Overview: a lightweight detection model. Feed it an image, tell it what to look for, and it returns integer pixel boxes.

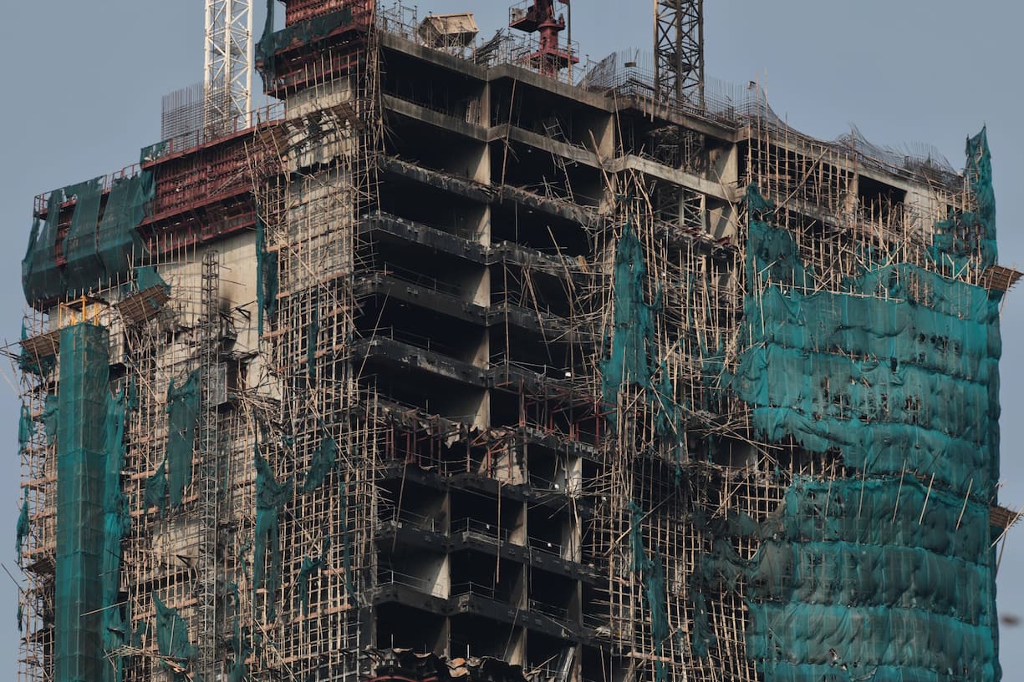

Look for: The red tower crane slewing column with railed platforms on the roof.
[510,0,580,81]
